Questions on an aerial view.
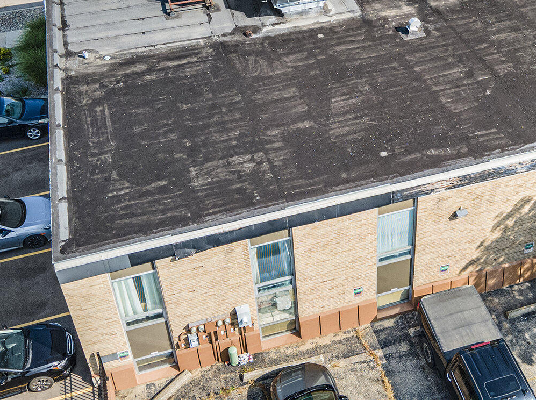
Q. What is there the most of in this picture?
buildings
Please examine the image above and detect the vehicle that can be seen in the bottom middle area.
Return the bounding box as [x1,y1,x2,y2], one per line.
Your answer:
[280,361,354,400]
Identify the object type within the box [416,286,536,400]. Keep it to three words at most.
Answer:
truck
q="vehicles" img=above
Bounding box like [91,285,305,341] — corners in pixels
[280,361,354,400]
[0,92,49,140]
[0,313,77,395]
[0,190,51,250]
[416,286,536,400]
